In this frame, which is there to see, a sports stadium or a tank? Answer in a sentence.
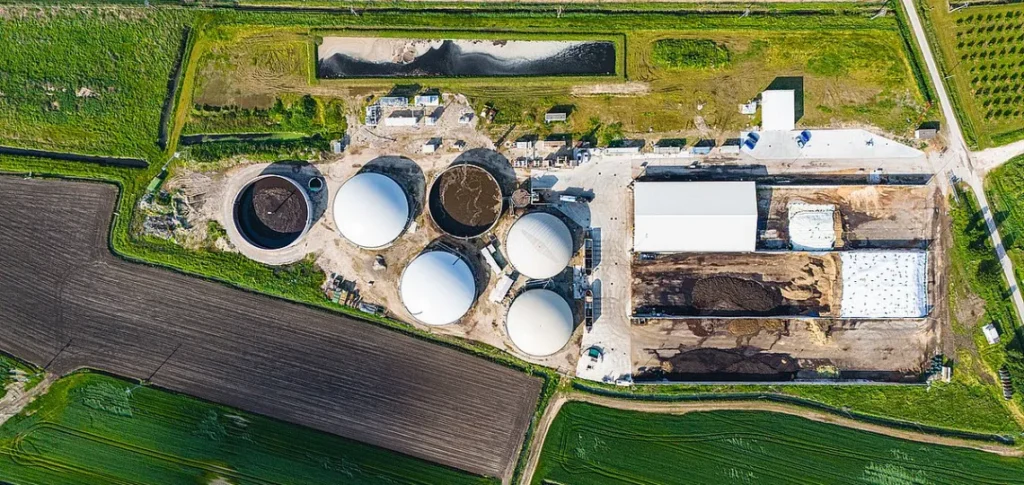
Visible in the photo is a tank.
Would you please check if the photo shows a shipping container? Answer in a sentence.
Yes, there's a shipping container down there.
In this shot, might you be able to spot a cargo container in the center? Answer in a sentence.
Yes, a cargo container is visible in the center.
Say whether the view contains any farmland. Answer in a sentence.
Yes, there's farmland in this view.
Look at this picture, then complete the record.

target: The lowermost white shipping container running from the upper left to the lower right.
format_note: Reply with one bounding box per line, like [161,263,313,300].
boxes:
[479,246,504,276]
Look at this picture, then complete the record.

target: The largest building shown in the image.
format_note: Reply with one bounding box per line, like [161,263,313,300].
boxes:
[632,178,759,253]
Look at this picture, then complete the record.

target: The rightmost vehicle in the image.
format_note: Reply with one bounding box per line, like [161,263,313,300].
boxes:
[794,135,808,150]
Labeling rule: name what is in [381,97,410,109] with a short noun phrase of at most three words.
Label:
building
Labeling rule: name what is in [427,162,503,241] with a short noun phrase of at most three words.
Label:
storage tank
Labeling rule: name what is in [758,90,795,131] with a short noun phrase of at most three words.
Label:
shed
